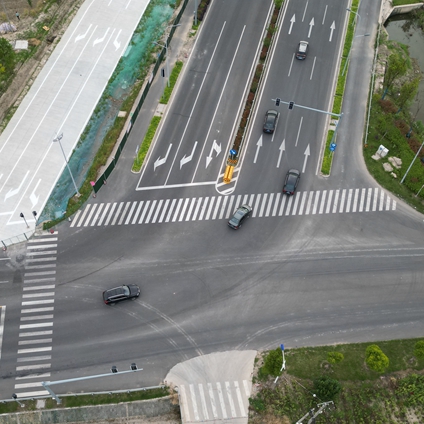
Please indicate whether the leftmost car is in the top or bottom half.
bottom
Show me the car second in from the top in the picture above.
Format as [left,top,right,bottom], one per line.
[262,109,280,135]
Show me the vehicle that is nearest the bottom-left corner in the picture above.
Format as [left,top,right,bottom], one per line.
[102,284,140,307]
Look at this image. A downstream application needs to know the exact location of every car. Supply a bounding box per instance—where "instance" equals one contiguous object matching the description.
[282,168,301,197]
[225,203,254,232]
[102,284,140,307]
[295,41,310,61]
[262,109,280,135]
